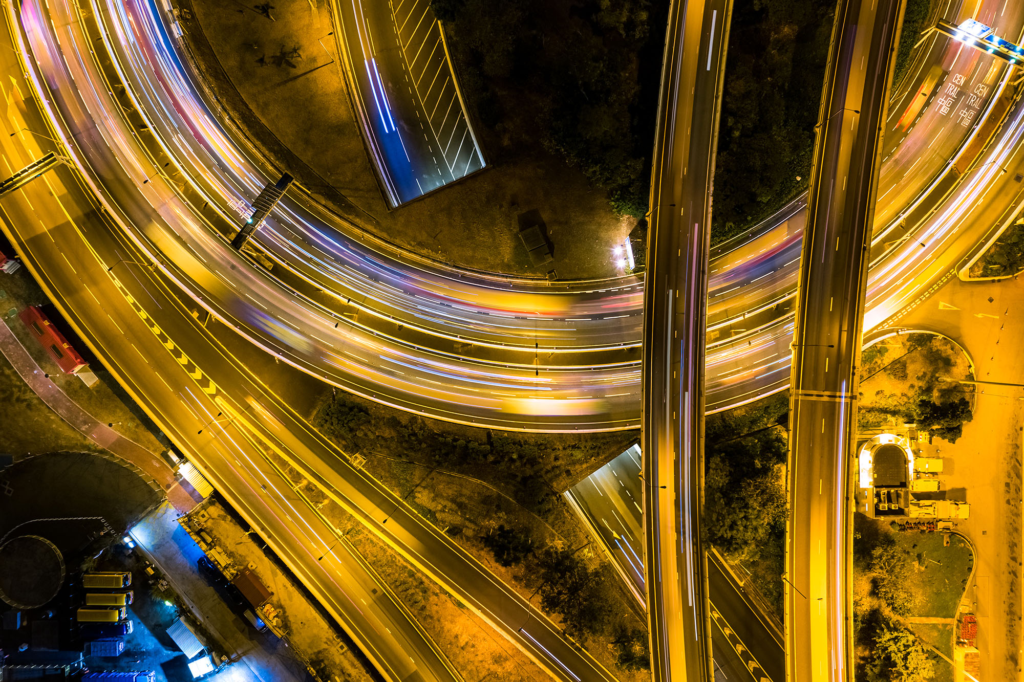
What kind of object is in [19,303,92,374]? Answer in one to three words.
building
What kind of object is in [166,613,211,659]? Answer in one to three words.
shed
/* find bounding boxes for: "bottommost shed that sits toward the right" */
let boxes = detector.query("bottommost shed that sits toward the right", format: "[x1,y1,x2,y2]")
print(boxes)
[953,646,989,682]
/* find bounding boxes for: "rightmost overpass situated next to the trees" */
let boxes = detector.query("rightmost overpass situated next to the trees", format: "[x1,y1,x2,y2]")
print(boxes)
[782,0,911,682]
